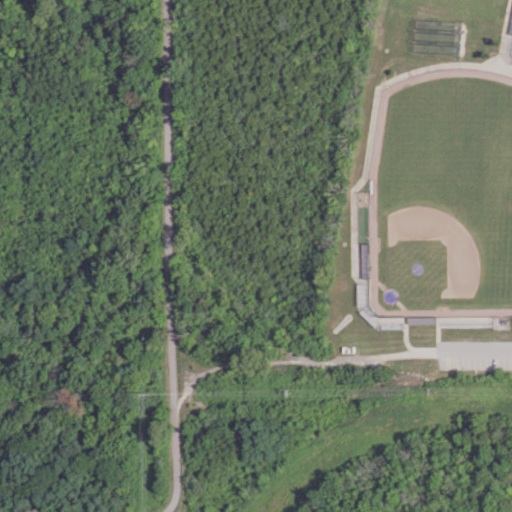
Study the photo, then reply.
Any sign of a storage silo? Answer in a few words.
No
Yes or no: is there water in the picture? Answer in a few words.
No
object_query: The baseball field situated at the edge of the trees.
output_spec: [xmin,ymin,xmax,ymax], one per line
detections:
[358,70,512,317]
